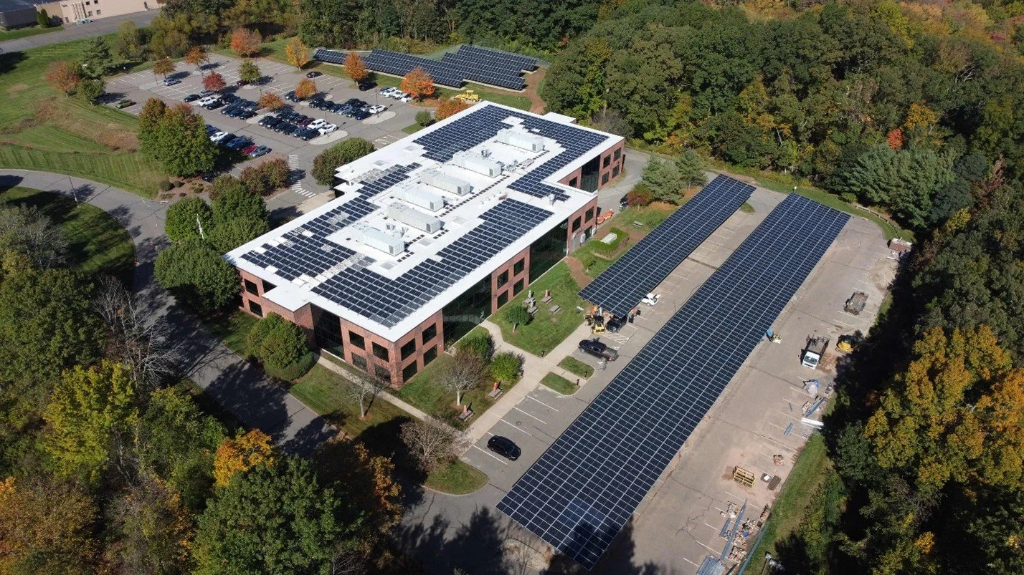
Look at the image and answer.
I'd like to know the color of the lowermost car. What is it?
black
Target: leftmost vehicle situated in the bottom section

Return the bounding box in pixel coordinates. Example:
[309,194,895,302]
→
[484,433,525,461]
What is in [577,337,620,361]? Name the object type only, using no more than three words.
car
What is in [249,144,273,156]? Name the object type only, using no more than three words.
vehicle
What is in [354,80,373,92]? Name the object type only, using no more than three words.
vehicle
